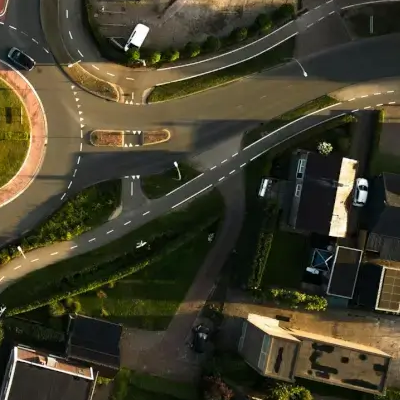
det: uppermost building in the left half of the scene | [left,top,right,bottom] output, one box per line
[63,310,122,367]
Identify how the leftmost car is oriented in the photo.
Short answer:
at an angle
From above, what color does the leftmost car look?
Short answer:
black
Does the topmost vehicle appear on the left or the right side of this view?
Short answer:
left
